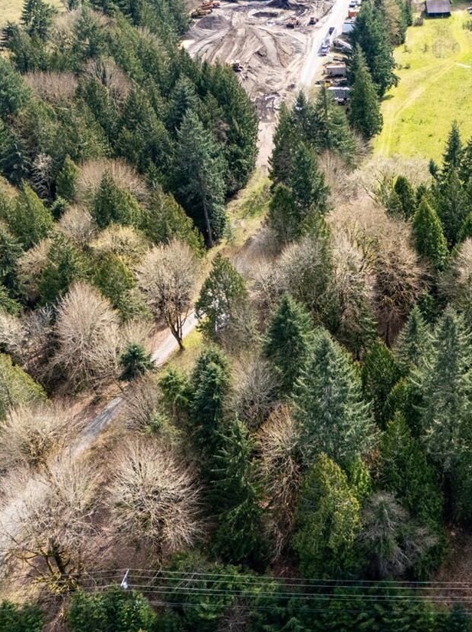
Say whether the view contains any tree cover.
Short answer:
Yes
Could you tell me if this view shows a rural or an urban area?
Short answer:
rural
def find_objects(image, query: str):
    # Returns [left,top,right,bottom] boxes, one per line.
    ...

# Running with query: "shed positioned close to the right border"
[426,1,453,17]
